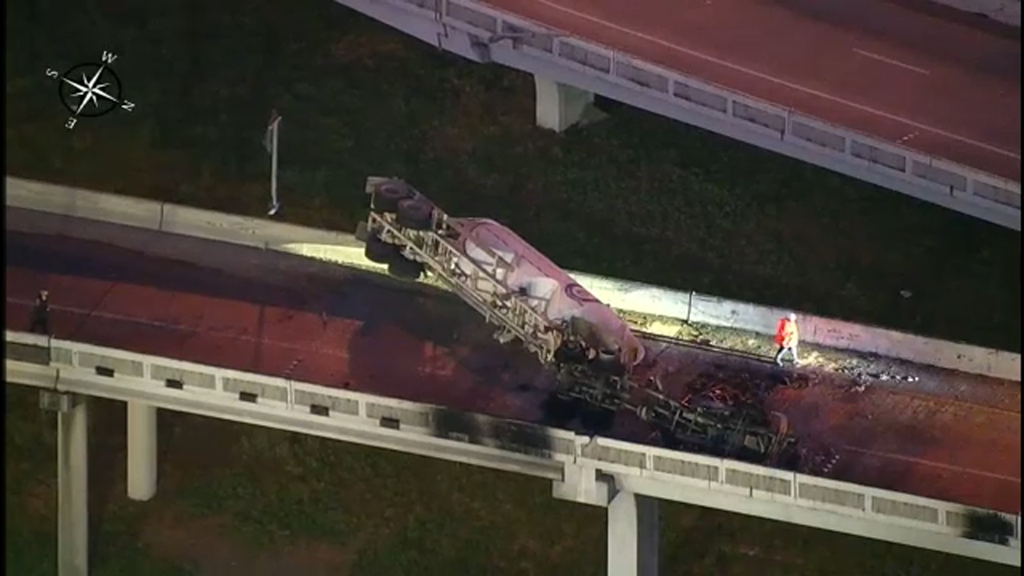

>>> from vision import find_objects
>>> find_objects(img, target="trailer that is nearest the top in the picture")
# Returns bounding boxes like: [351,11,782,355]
[357,169,643,387]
